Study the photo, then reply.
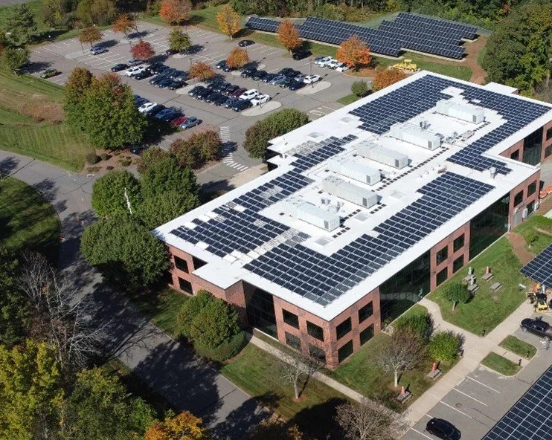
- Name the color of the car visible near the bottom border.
black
